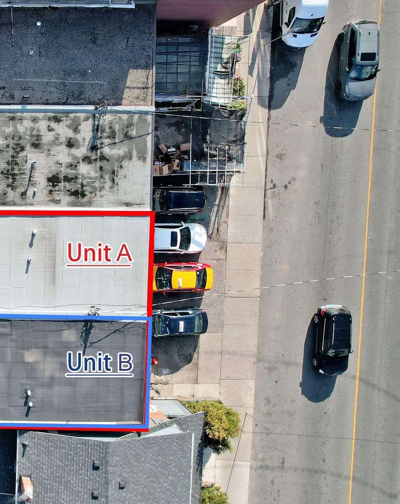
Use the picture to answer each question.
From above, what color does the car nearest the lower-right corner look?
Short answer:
black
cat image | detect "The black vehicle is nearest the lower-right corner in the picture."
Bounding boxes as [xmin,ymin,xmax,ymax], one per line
[309,302,354,374]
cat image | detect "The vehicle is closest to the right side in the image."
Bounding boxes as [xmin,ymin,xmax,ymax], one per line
[334,21,383,102]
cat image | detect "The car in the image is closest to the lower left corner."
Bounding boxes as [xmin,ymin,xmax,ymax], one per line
[149,305,208,341]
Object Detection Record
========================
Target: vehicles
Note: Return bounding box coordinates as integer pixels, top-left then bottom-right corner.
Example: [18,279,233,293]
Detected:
[309,302,354,374]
[334,21,383,102]
[275,0,329,51]
[152,222,207,256]
[153,183,211,218]
[151,261,214,295]
[149,305,208,341]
